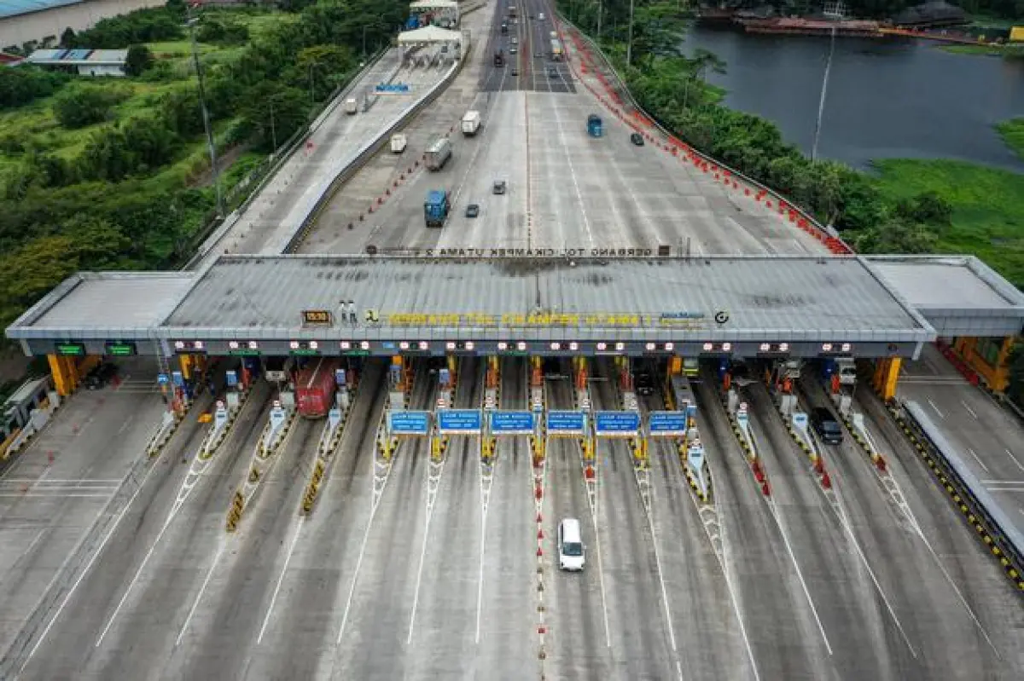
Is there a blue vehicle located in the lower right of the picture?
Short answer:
No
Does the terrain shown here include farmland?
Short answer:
No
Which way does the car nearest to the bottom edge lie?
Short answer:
from top to bottom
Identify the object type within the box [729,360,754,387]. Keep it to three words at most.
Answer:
car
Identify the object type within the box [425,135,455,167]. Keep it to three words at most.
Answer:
truck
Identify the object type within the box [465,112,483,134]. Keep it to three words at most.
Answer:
vehicle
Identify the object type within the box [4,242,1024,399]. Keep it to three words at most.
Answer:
toll station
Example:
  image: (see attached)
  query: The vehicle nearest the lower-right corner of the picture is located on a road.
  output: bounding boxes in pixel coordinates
[808,403,842,441]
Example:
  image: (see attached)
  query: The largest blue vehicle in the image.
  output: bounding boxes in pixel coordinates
[427,189,452,223]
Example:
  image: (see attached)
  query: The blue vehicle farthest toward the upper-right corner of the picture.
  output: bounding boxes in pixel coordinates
[586,113,601,135]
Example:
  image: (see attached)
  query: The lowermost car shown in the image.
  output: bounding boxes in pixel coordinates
[558,517,586,570]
